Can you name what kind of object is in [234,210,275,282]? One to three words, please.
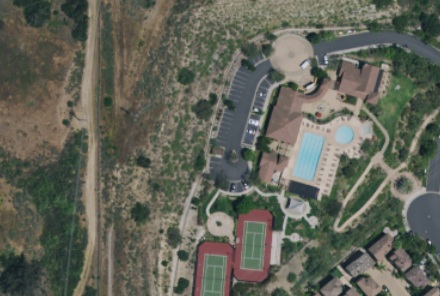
tennis court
